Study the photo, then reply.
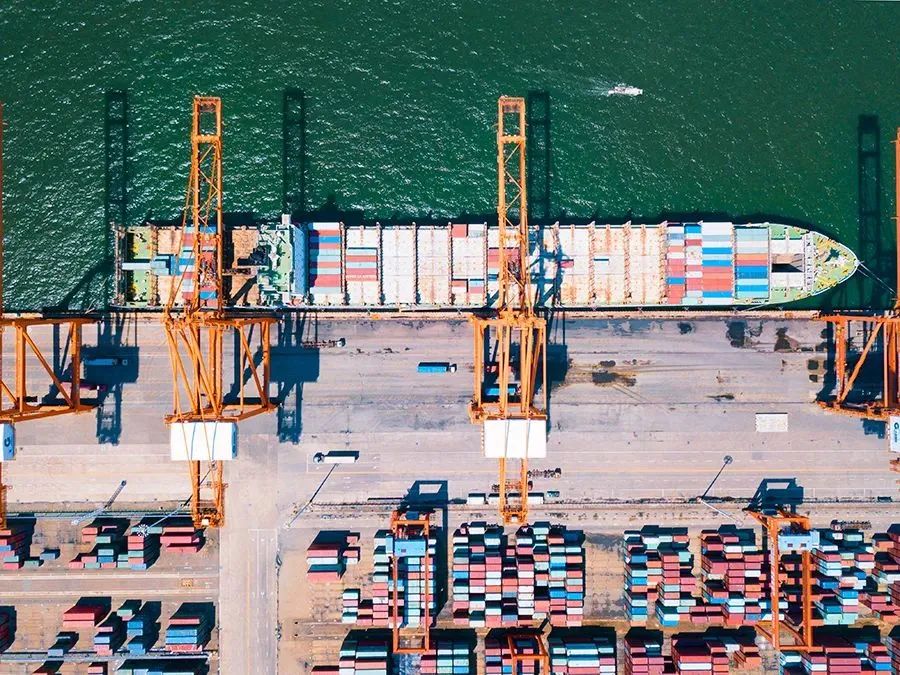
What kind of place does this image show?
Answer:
port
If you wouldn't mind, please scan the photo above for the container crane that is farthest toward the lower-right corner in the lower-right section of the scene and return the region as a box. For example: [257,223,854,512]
[742,502,822,653]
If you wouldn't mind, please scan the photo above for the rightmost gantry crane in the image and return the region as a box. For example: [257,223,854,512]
[798,98,900,528]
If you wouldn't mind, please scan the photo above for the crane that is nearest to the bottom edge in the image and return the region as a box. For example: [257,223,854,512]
[504,629,552,675]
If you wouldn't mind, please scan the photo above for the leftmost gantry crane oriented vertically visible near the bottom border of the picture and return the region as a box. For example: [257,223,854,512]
[382,502,434,653]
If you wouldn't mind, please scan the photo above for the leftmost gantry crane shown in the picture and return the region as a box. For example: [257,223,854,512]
[0,98,104,528]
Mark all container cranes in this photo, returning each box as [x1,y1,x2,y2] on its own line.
[159,97,286,528]
[0,98,104,528]
[466,97,542,528]
[382,502,434,653]
[742,502,822,653]
[504,629,552,675]
[798,98,900,528]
